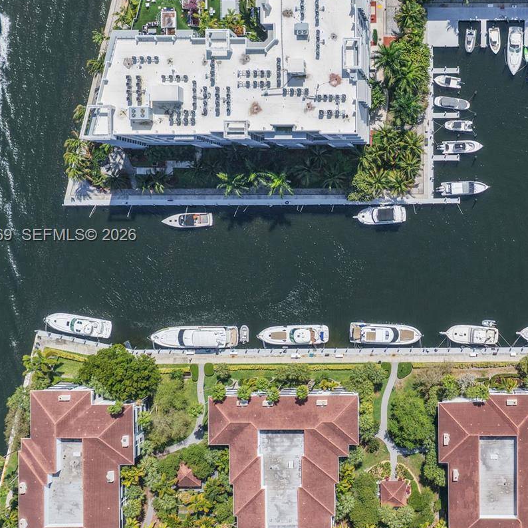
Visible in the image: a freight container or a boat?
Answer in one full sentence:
I can see a boat in this picture.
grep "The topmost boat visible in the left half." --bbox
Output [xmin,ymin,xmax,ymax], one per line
[163,213,215,228]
